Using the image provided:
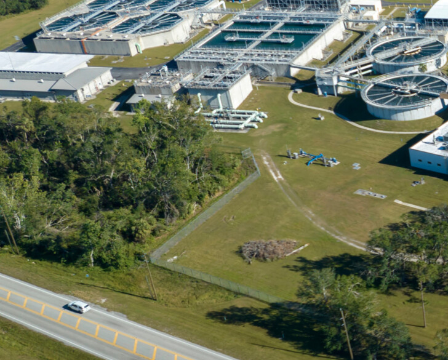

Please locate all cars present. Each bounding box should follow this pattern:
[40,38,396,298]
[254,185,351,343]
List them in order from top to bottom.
[66,300,88,313]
